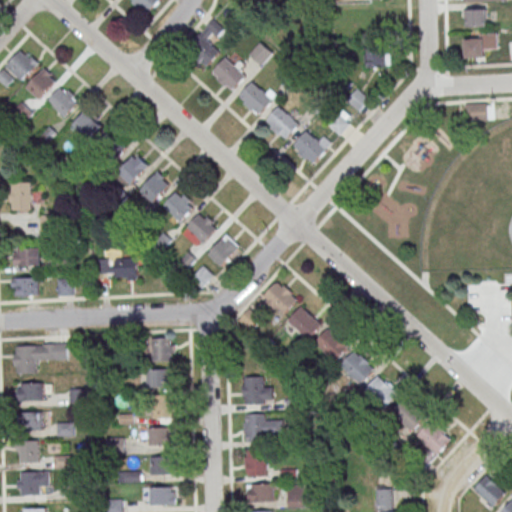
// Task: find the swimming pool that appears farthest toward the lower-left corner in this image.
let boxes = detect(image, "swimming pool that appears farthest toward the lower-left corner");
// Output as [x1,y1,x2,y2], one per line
[126,456,140,470]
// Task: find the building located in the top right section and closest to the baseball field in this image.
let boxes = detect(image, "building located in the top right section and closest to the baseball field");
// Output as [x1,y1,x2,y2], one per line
[466,102,496,122]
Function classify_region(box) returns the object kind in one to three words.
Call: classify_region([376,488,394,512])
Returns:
house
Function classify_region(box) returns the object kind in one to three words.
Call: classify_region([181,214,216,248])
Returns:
house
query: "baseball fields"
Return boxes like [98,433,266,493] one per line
[420,116,512,271]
